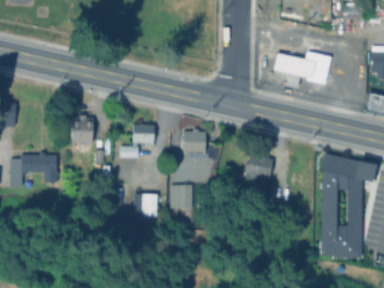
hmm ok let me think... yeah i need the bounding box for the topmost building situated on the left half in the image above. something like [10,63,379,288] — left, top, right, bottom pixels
[0,101,17,127]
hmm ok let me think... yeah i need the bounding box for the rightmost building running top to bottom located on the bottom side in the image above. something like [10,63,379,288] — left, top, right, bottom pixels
[322,162,364,258]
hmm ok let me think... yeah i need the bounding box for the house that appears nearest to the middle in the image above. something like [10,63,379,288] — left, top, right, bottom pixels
[182,128,207,154]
